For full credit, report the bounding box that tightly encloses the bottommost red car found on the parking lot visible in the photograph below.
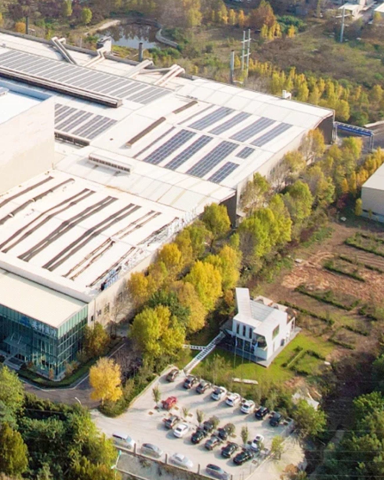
[158,395,177,410]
